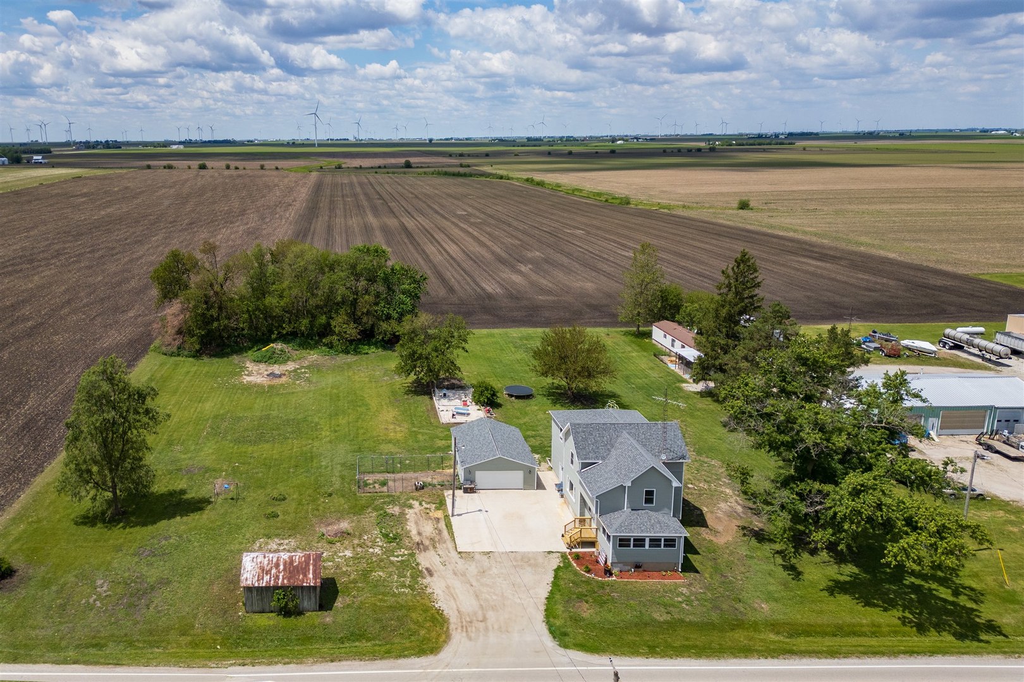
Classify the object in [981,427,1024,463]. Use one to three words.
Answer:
trailer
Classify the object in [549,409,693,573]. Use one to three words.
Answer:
house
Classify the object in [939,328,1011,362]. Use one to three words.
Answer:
trailer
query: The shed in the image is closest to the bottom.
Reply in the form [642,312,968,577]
[239,559,326,613]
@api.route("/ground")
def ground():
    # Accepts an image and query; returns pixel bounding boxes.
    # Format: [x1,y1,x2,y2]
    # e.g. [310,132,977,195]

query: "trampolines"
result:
[504,382,534,399]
